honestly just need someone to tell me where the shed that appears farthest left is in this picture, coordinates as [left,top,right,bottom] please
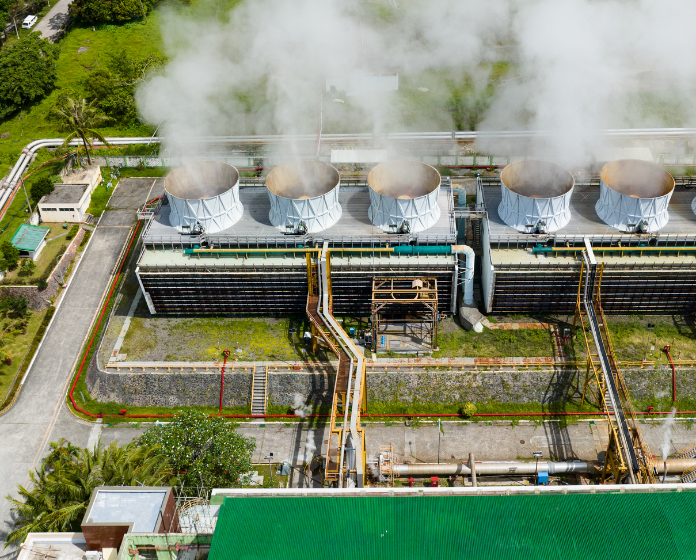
[10,223,52,265]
